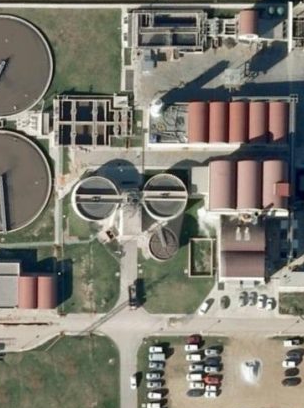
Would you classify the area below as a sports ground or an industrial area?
industrial area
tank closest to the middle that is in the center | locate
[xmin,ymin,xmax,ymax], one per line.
[138,175,188,222]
